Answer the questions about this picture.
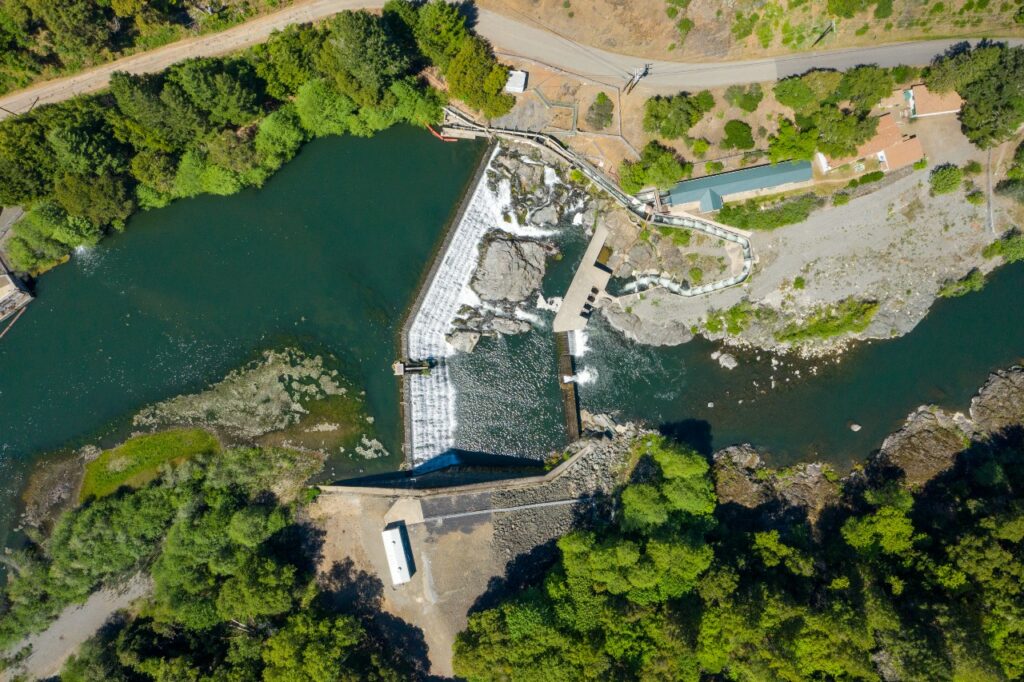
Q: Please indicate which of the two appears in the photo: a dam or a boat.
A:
dam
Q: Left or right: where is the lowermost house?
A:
left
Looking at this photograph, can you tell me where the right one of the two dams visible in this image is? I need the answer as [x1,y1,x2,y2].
[555,333,580,442]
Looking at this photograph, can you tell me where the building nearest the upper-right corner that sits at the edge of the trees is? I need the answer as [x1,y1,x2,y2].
[907,86,966,124]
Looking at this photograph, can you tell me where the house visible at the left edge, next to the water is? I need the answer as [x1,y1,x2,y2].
[0,251,40,329]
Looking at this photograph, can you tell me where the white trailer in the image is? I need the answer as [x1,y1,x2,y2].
[382,525,413,586]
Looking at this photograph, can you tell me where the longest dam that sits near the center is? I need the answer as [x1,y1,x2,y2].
[403,140,510,484]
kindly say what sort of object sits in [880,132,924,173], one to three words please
house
